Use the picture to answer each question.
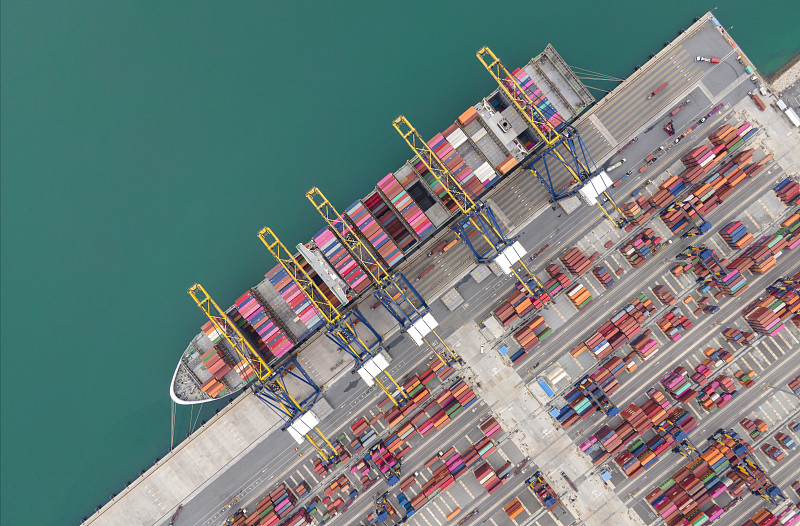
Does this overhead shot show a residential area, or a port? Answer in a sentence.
The picture captures a port.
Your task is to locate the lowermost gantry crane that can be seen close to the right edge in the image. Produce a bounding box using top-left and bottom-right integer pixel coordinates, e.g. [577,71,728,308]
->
[735,459,792,505]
